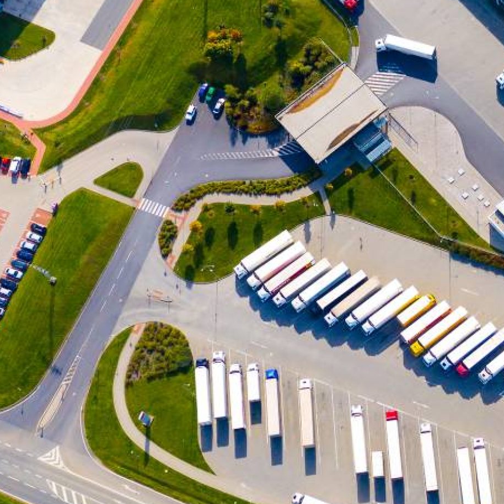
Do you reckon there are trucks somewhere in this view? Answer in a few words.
Yes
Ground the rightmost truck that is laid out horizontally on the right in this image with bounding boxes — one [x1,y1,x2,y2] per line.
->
[376,40,438,62]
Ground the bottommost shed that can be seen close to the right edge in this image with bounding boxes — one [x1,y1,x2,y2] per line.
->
[485,209,504,239]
